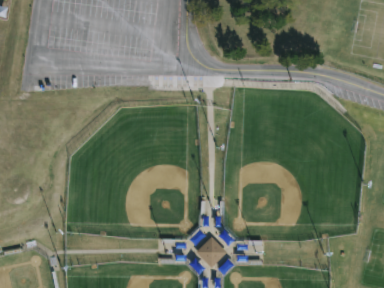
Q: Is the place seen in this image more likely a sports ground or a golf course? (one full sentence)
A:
The area seen from above is a sports ground.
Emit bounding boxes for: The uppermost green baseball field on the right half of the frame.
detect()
[224,90,366,240]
